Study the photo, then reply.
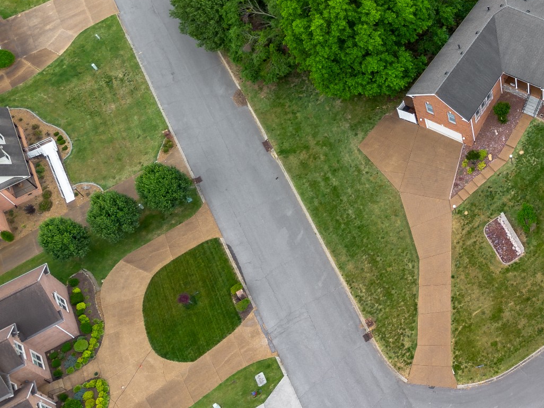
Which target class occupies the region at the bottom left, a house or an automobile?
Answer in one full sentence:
The feature located at the bottom left is a house.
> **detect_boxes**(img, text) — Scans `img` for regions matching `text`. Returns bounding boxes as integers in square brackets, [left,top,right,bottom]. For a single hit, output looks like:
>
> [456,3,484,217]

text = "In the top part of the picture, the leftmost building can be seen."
[0,107,47,215]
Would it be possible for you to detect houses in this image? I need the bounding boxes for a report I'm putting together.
[0,264,80,408]
[406,0,544,144]
[0,107,47,215]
